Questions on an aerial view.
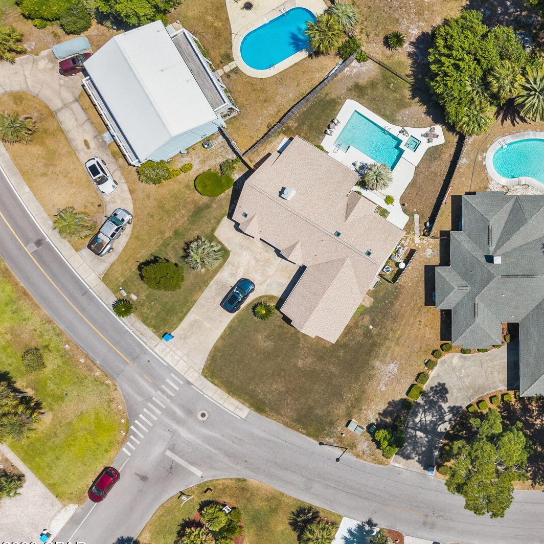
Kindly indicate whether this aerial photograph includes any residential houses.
Yes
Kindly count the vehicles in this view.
5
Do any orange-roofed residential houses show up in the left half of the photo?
No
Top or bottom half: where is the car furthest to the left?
top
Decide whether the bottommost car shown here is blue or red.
red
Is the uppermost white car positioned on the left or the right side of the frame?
left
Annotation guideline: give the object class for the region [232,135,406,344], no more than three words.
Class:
house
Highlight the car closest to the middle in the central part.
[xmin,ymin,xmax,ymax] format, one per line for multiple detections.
[220,277,256,315]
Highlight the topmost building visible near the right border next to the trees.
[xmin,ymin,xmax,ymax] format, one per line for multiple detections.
[435,191,544,397]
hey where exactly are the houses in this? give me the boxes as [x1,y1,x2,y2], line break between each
[435,191,544,397]
[78,19,238,167]
[232,135,406,344]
